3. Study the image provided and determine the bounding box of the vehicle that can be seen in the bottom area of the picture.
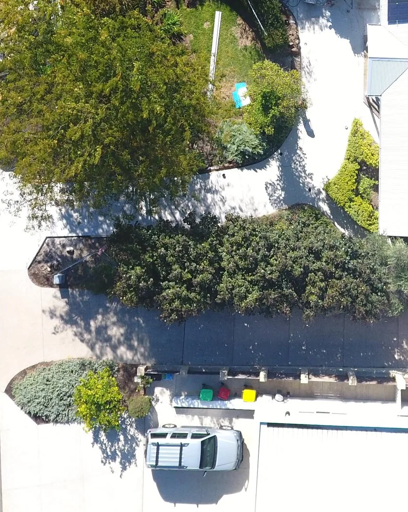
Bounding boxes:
[146,419,250,474]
